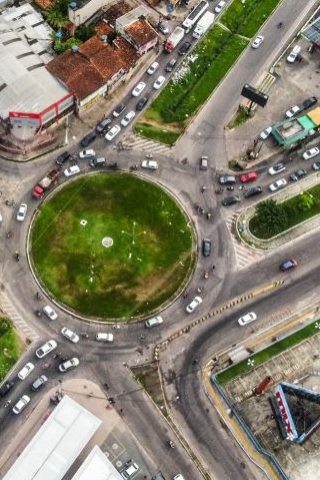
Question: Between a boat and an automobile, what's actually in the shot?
automobile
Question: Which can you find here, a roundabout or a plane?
roundabout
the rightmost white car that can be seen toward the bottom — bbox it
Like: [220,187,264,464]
[236,313,258,326]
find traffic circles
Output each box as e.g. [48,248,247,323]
[30,172,196,323]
